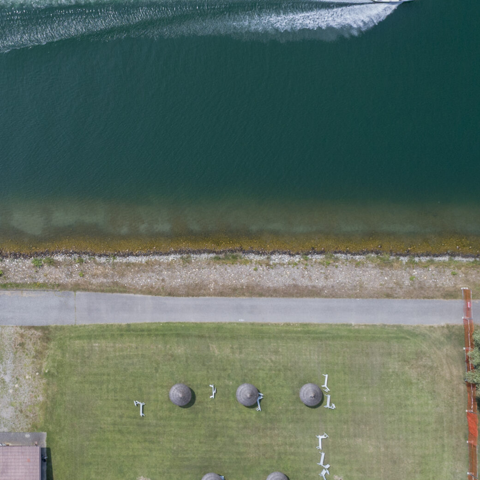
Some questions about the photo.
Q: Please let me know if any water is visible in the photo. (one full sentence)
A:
Yes, there is water in the image.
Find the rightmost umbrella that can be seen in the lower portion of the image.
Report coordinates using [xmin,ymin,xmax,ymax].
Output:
[299,383,322,406]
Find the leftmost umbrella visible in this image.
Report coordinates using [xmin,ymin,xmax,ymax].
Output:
[168,384,192,406]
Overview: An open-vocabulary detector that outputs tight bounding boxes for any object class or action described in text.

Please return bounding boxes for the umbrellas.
[299,383,322,406]
[202,473,223,480]
[168,384,192,406]
[235,384,258,406]
[267,472,287,480]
